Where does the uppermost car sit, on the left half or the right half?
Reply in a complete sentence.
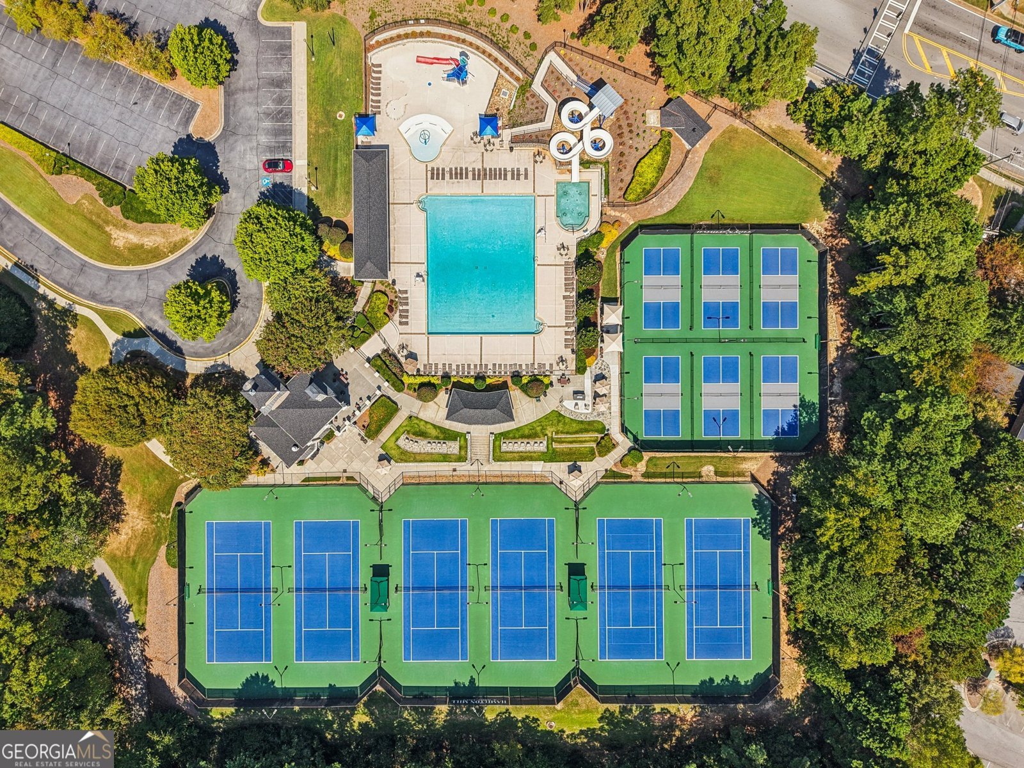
The uppermost car is on the right side of the image.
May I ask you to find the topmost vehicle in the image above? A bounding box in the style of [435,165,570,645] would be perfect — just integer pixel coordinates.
[995,25,1024,48]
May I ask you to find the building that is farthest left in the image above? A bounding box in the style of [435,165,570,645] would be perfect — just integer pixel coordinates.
[241,369,345,469]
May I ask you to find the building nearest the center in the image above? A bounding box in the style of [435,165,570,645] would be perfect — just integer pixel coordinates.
[445,388,515,425]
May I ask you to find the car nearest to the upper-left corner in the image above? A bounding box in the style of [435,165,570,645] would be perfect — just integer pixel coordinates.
[261,157,291,172]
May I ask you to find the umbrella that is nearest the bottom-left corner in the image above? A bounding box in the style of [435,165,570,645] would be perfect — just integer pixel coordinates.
[375,457,390,473]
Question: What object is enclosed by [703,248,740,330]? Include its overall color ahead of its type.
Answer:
blue sports court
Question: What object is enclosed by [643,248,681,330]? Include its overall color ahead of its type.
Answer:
blue sports court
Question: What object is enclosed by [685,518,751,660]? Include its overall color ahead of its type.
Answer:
blue tennis court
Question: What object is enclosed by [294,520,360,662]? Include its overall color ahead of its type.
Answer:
blue tennis court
